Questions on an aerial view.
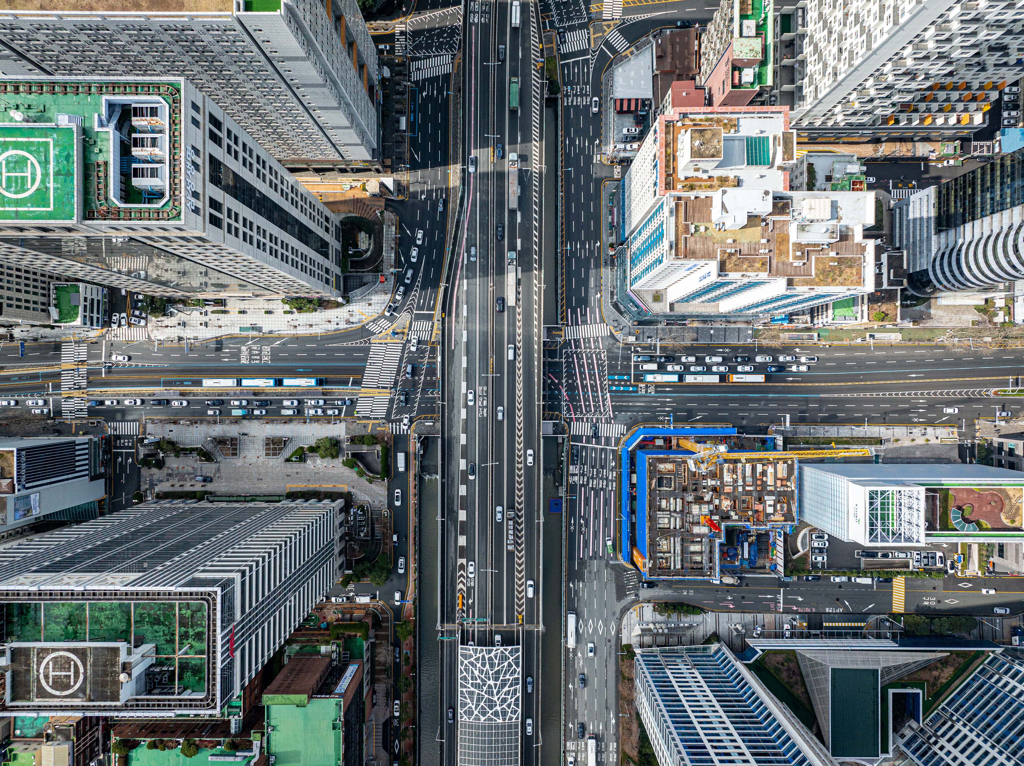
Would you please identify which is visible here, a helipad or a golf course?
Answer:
helipad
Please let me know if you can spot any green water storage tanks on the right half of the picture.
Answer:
No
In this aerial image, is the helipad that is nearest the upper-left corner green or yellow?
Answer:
green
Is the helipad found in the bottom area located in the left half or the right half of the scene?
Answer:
left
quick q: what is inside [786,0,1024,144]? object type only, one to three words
building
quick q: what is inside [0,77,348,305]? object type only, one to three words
building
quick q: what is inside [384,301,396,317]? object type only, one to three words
vehicle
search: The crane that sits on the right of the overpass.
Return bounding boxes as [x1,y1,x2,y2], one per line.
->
[673,437,874,460]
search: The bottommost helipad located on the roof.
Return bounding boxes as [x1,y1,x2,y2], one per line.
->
[4,641,129,706]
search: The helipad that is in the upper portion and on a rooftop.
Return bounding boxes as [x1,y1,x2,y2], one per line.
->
[0,123,89,227]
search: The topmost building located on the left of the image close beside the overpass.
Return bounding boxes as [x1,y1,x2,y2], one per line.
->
[0,0,383,172]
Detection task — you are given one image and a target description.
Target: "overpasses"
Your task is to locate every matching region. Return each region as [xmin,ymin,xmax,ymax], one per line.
[438,0,547,766]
